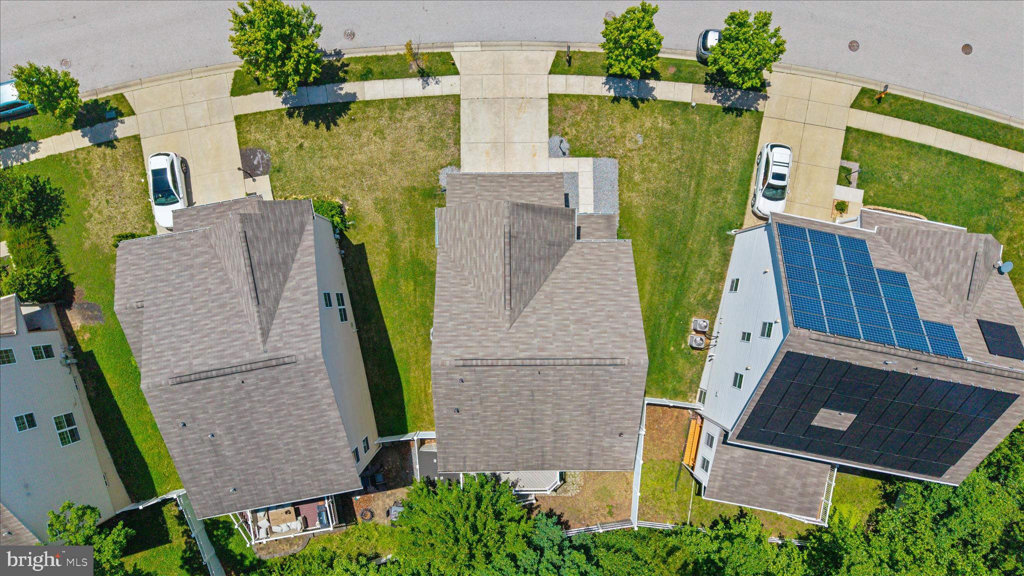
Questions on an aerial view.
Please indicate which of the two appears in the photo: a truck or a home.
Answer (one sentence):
There is a home in the scene.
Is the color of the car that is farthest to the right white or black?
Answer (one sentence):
The car that is farthest to the right looks white in the image.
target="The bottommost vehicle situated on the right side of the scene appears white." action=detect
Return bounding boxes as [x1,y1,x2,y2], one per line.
[750,143,796,215]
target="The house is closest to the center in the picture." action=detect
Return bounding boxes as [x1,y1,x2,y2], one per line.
[431,171,648,474]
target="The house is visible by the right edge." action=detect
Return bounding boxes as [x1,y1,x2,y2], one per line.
[690,205,1024,522]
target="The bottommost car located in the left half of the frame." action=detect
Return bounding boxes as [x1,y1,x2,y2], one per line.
[150,152,192,231]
